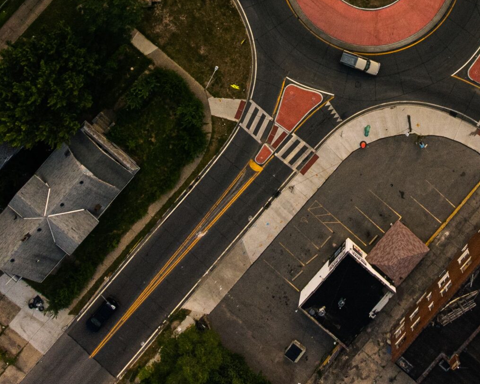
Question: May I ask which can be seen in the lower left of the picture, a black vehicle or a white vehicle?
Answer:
black vehicle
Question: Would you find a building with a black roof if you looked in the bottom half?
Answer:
Yes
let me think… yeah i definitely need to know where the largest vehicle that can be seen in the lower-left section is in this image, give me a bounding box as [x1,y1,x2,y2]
[85,294,122,332]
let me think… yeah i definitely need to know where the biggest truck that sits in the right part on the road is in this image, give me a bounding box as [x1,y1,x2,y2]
[338,47,382,76]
